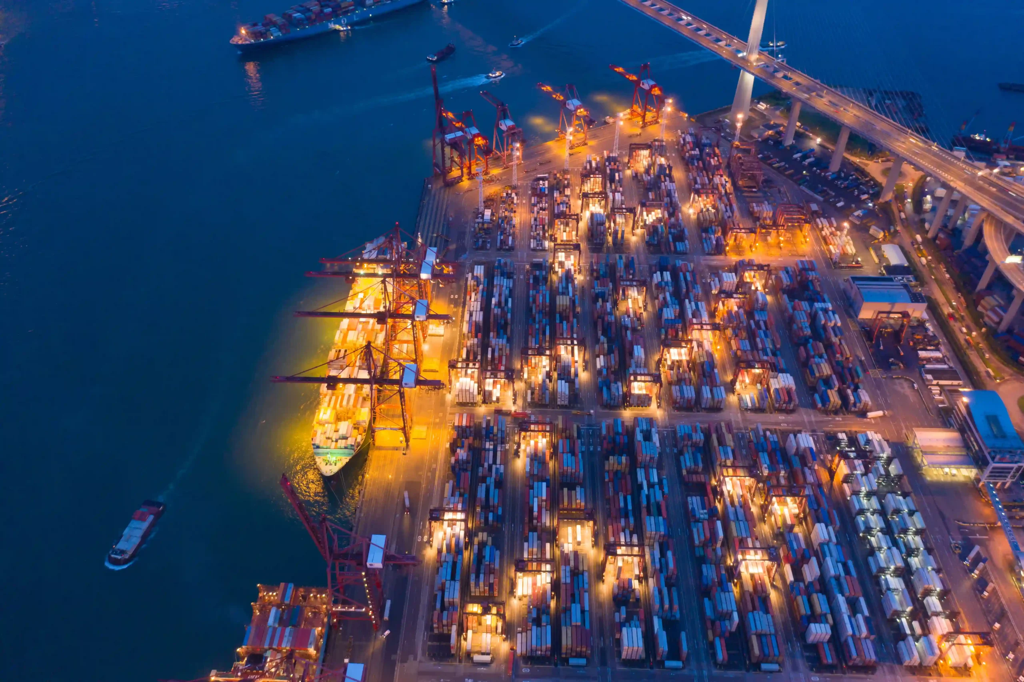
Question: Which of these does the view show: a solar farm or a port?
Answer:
port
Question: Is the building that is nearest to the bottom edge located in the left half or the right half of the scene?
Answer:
right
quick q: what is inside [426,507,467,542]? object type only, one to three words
container crane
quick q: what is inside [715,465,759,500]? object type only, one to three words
container crane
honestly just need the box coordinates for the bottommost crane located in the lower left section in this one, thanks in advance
[149,651,374,682]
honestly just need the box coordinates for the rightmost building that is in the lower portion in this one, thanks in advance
[953,390,1024,499]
